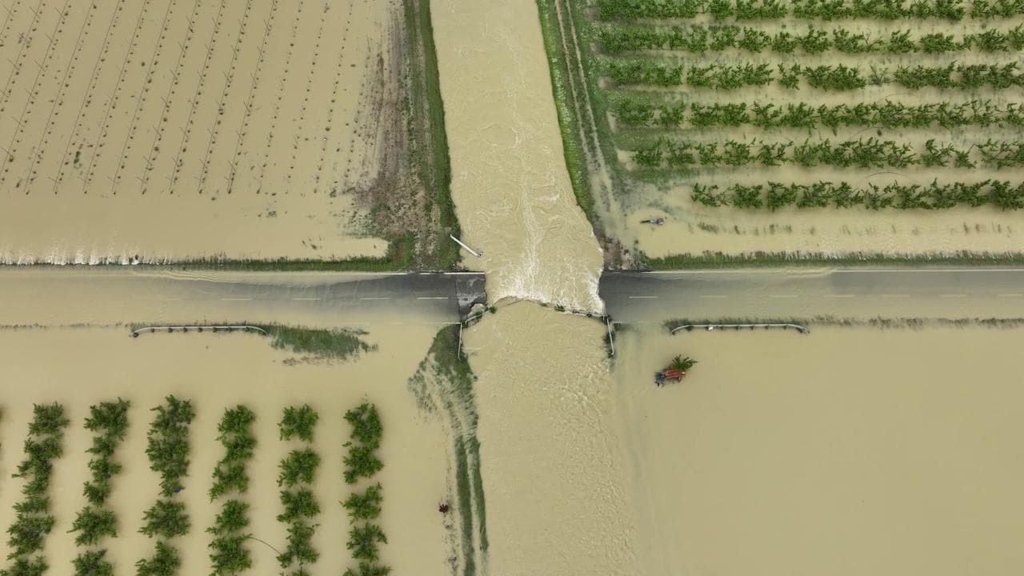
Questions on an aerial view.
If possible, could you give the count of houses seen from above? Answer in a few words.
zero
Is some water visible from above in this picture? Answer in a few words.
Yes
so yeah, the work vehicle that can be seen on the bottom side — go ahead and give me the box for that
[655,369,686,386]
